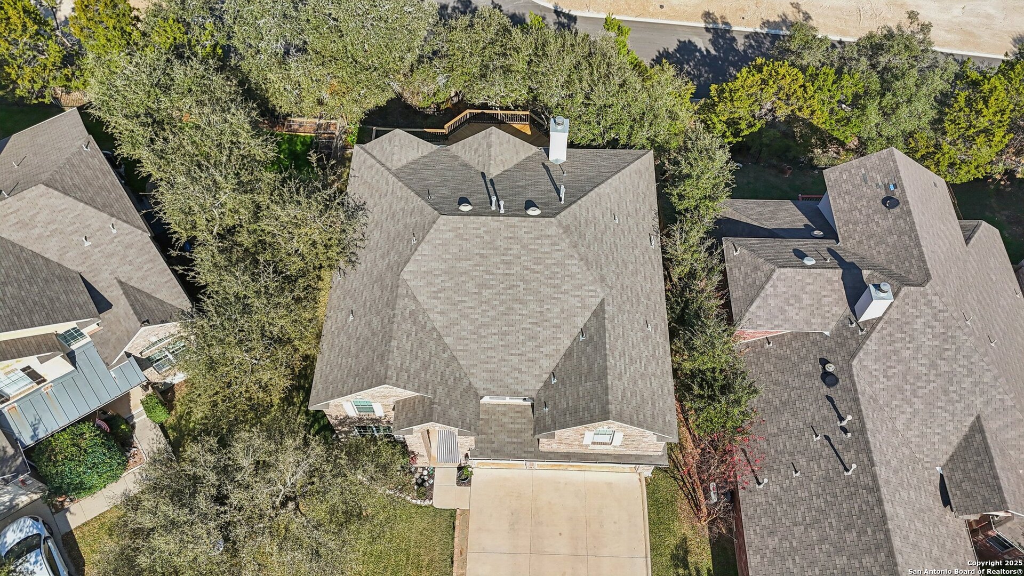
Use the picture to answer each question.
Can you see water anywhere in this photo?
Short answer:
No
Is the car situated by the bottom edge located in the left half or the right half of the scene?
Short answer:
left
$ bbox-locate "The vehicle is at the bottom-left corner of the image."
[5,514,79,576]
